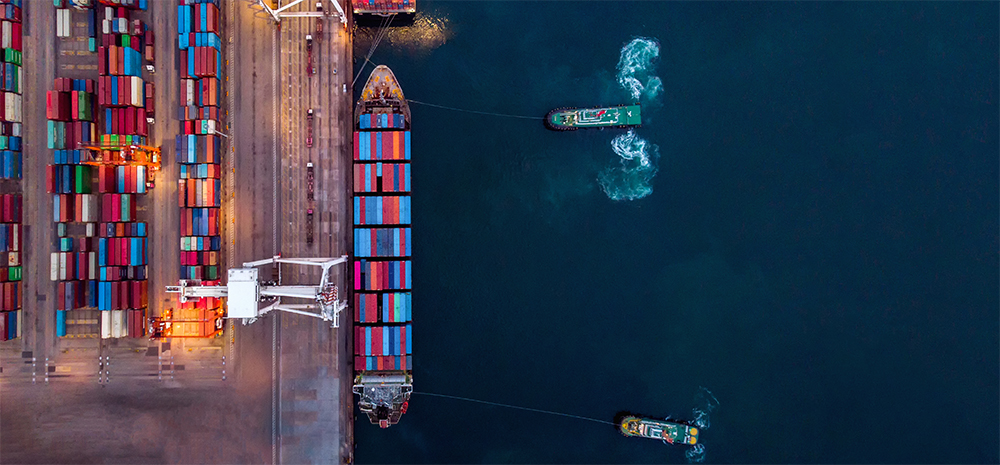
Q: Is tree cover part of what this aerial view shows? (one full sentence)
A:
No, tree cover can't be seen anywhere here.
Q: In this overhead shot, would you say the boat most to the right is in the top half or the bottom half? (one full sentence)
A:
You can find the boat most to the right in the bottom half.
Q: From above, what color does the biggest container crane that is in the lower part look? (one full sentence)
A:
The color of the biggest container crane that is in the lower part is white.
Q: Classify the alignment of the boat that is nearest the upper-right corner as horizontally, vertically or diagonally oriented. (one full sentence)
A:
In this picture, the boat that is nearest the upper-right corner is oriented horizontally.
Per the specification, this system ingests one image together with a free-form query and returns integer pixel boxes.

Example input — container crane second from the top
[76,143,160,173]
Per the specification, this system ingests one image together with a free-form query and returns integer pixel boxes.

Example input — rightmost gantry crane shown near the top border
[261,0,350,33]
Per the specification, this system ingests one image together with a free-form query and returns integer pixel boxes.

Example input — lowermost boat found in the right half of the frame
[617,415,698,445]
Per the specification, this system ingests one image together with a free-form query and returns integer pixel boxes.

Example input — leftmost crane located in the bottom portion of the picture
[148,308,228,340]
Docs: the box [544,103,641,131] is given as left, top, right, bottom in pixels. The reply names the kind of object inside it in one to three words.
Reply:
boat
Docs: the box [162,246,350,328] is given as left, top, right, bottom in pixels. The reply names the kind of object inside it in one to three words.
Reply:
container crane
